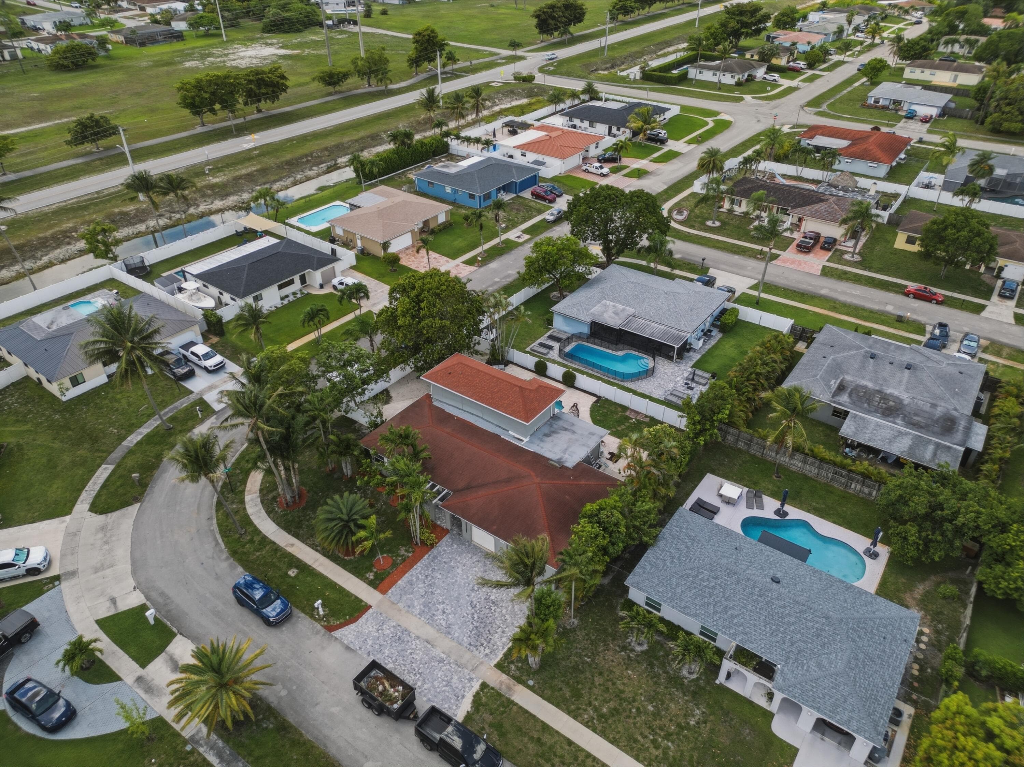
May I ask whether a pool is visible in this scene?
Yes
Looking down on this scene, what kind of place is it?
residential area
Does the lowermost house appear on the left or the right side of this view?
right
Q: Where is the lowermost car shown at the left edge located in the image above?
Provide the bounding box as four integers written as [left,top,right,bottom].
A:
[1,677,80,734]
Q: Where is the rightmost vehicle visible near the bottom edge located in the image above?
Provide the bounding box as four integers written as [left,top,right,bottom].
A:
[410,705,507,767]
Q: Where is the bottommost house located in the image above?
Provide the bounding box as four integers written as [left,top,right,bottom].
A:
[621,509,922,767]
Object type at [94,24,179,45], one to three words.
house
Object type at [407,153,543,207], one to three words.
house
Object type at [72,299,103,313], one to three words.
swimming pool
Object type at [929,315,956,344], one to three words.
car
